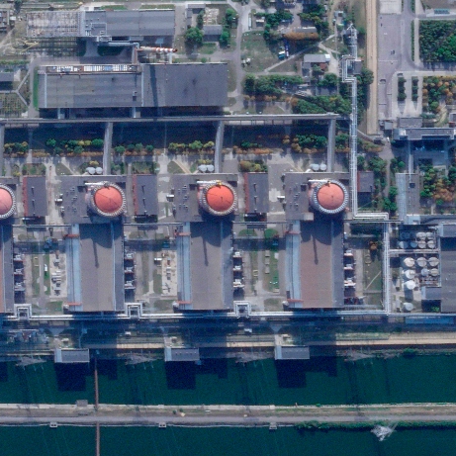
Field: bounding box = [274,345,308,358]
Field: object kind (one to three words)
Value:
building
